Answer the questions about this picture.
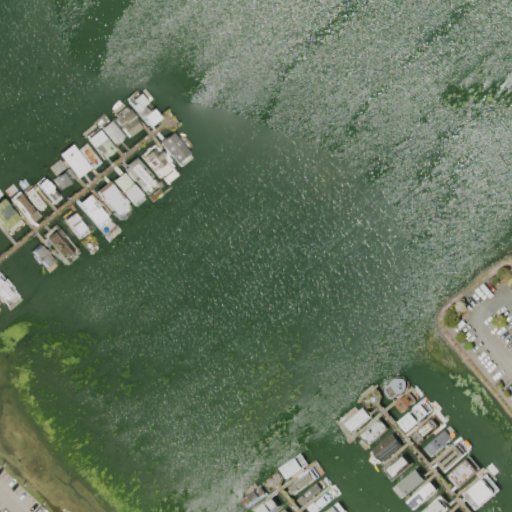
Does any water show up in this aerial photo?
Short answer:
Yes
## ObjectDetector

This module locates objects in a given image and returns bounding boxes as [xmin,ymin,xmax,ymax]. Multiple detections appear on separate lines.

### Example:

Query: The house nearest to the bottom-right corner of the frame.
[462,467,502,512]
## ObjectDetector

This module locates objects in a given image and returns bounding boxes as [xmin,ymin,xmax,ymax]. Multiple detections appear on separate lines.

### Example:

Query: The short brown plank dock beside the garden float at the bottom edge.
[258,468,332,512]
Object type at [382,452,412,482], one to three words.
house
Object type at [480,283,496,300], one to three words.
vehicle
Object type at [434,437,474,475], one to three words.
house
